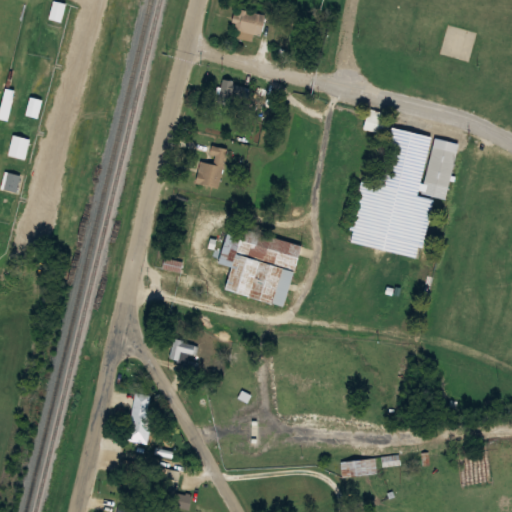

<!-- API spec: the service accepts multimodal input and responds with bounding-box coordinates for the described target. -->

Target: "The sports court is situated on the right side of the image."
[440,24,478,62]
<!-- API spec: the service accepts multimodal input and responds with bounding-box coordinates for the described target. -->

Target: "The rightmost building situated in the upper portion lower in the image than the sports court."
[420,138,460,200]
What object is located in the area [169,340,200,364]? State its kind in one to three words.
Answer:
house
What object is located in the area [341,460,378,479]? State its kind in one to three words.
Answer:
barn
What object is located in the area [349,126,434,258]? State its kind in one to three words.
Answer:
building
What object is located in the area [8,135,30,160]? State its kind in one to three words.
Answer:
shed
